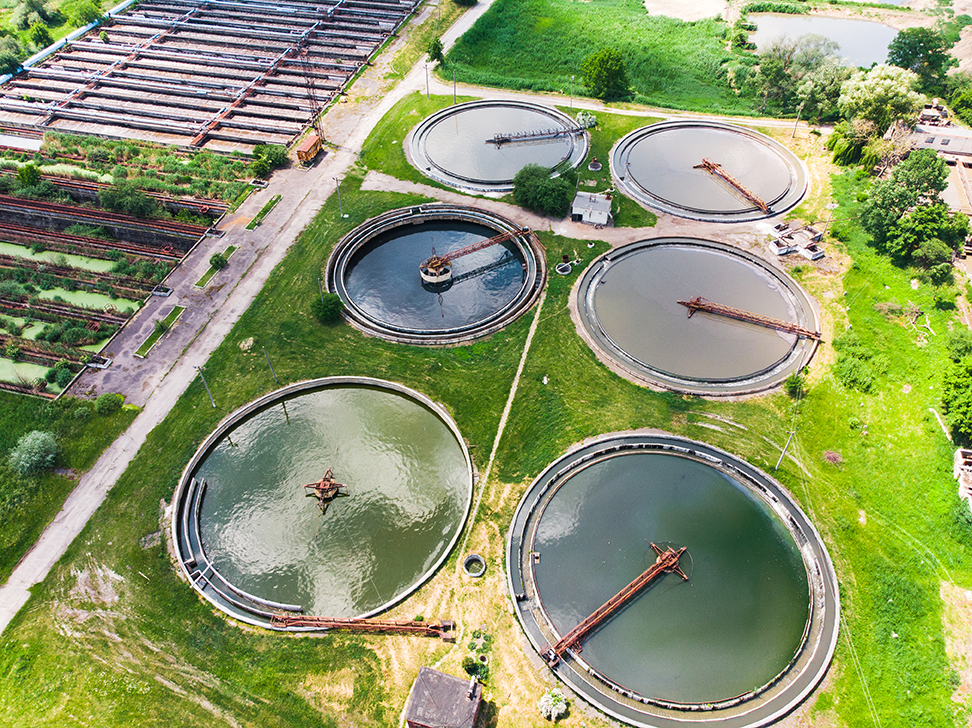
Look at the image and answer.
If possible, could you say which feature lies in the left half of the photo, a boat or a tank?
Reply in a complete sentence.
Visible in the left half of the photo is a tank.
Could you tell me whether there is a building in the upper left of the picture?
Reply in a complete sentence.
No, I can find no building in the upper left of the picture.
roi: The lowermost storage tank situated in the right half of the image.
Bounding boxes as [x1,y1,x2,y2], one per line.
[508,434,838,728]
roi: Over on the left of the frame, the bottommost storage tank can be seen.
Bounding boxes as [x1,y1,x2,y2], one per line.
[173,378,473,631]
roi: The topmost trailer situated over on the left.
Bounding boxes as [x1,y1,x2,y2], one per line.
[290,131,326,171]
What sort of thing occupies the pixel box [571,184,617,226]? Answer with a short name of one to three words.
building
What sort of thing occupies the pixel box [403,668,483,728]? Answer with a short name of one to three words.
building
